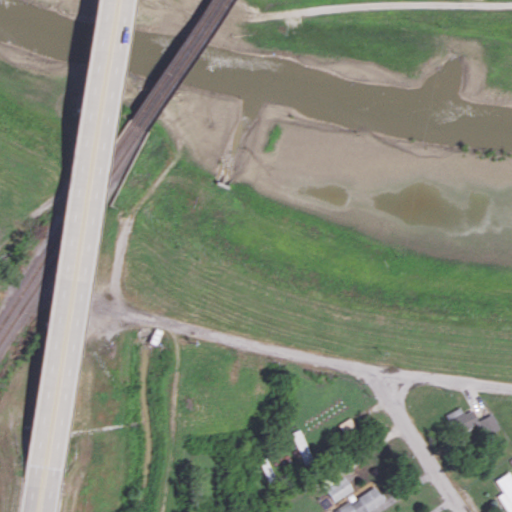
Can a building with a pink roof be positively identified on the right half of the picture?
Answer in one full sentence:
No, no building with a pink roof can be made out on the right half of the picture.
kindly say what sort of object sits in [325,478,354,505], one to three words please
house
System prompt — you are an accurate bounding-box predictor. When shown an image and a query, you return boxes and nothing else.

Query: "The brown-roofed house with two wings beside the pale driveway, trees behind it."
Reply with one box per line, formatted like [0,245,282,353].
[446,408,500,437]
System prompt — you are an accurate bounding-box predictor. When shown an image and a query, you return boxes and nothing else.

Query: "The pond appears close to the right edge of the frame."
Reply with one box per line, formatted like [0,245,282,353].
[372,183,488,228]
